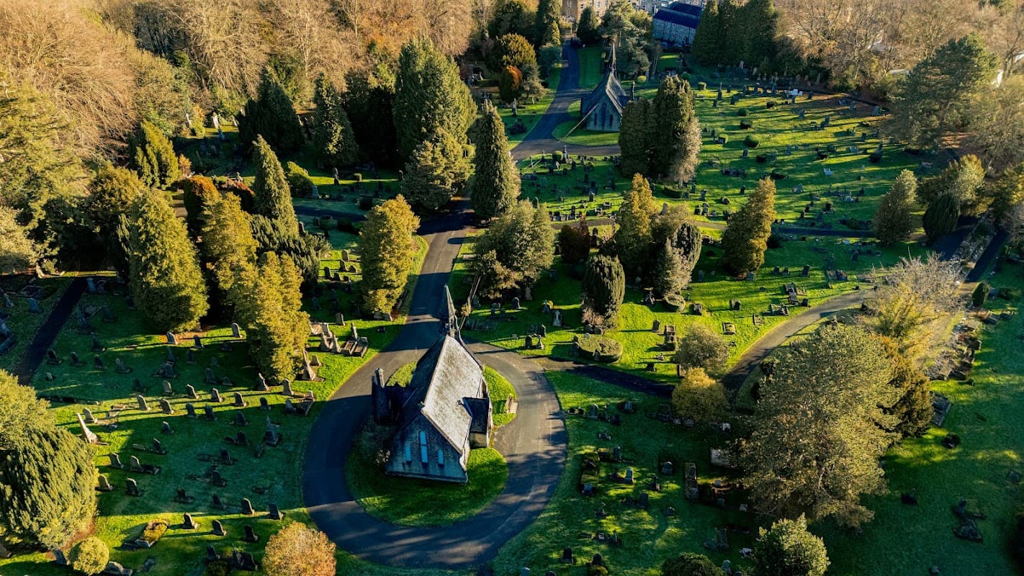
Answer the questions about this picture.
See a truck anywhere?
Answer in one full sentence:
No, this view has no truck in it.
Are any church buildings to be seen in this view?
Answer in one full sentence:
Yes, a church building can be made out from above.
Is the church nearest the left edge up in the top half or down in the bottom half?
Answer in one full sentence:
The church nearest the left edge sits in the bottom half of the picture.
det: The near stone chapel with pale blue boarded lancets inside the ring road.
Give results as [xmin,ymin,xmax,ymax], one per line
[365,277,499,485]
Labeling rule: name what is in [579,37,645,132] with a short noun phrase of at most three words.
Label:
building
